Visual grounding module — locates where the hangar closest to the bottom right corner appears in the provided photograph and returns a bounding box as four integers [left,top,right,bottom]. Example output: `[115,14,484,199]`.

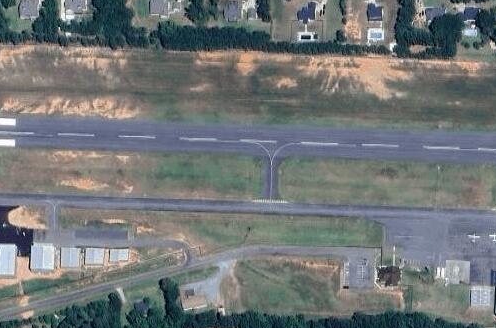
[471,287,490,307]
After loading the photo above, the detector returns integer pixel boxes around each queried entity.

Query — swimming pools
[299,32,318,41]
[368,28,383,41]
[463,28,476,36]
